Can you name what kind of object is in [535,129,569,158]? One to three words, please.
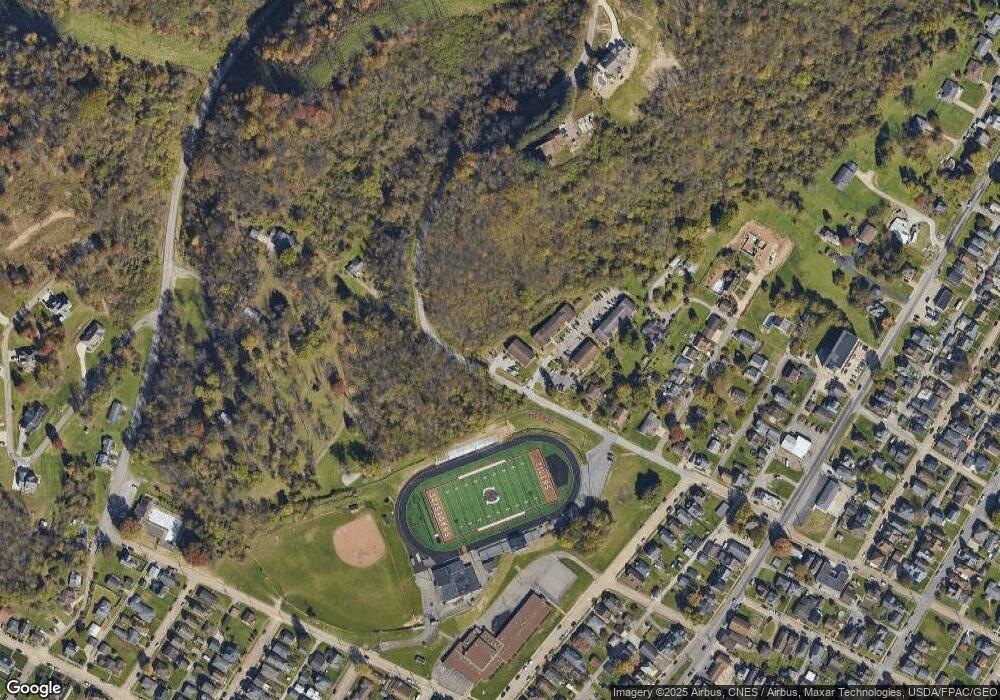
house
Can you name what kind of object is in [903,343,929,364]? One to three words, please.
house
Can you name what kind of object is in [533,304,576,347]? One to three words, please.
building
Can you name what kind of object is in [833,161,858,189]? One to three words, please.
barn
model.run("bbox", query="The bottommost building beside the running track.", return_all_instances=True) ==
[444,595,552,685]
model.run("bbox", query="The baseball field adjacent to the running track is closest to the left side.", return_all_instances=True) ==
[286,515,402,587]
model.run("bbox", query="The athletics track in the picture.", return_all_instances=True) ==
[401,432,581,560]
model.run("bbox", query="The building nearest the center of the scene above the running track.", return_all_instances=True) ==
[505,338,536,367]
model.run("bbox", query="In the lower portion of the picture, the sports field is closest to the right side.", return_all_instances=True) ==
[409,439,572,553]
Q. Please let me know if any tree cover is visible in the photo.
Yes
